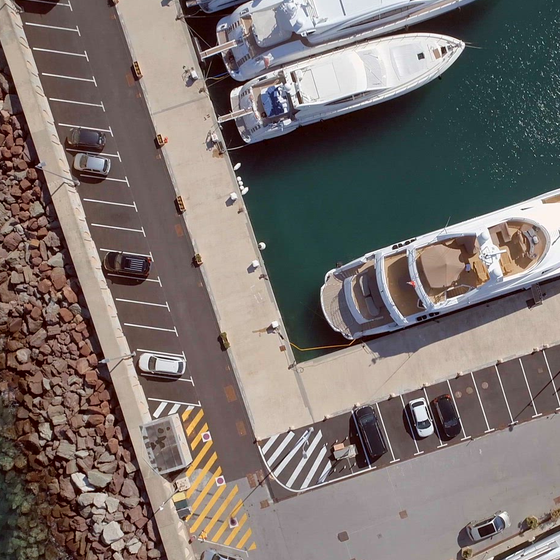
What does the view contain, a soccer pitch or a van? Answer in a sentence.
The one in the frame is a van.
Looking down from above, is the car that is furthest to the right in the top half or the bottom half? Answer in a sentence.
The car that is furthest to the right is in the bottom half of the image.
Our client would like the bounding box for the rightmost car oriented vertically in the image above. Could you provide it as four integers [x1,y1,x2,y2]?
[434,394,459,437]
